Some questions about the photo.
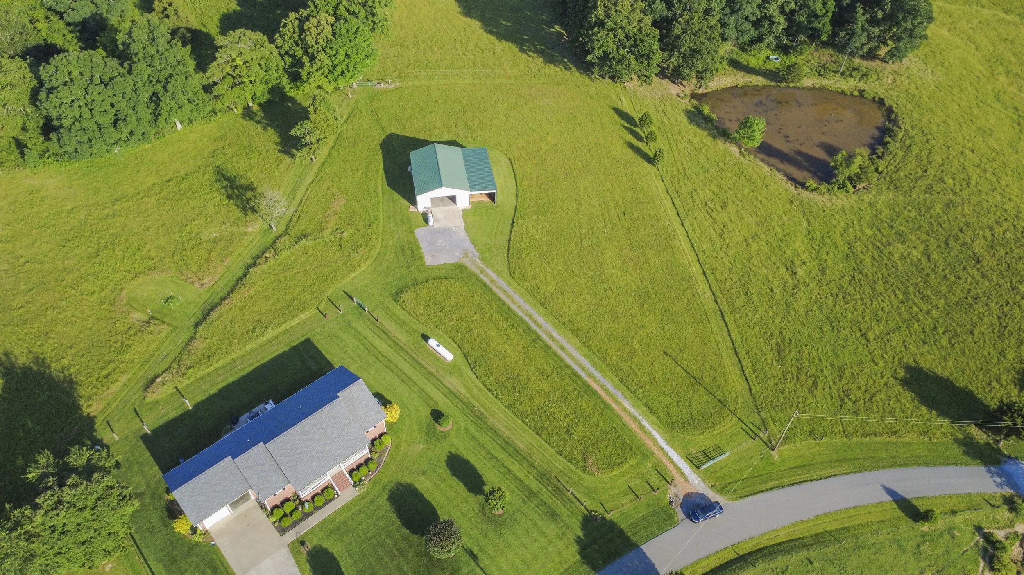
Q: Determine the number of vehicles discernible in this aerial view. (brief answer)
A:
1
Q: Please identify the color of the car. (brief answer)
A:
blue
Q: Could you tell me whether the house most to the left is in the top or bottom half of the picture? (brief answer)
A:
bottom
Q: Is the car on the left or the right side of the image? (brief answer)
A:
right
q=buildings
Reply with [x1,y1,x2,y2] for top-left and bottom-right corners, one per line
[163,365,386,533]
[411,141,497,210]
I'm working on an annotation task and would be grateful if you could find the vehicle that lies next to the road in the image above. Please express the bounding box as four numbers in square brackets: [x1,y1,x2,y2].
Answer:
[689,498,725,521]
